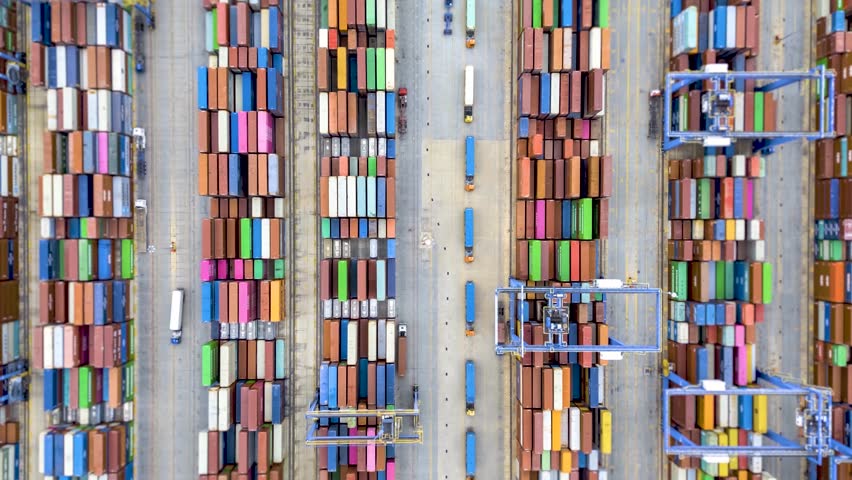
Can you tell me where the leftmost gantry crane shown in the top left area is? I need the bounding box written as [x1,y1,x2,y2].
[0,43,30,97]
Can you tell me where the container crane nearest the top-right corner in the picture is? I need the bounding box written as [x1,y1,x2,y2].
[661,58,843,162]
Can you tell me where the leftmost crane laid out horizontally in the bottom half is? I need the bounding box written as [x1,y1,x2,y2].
[300,387,421,445]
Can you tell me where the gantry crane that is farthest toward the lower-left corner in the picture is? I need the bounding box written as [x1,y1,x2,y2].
[0,350,32,404]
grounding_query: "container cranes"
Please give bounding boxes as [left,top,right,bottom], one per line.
[0,0,153,30]
[493,268,666,366]
[300,387,421,445]
[661,58,843,162]
[660,359,840,473]
[0,350,32,404]
[0,43,30,97]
